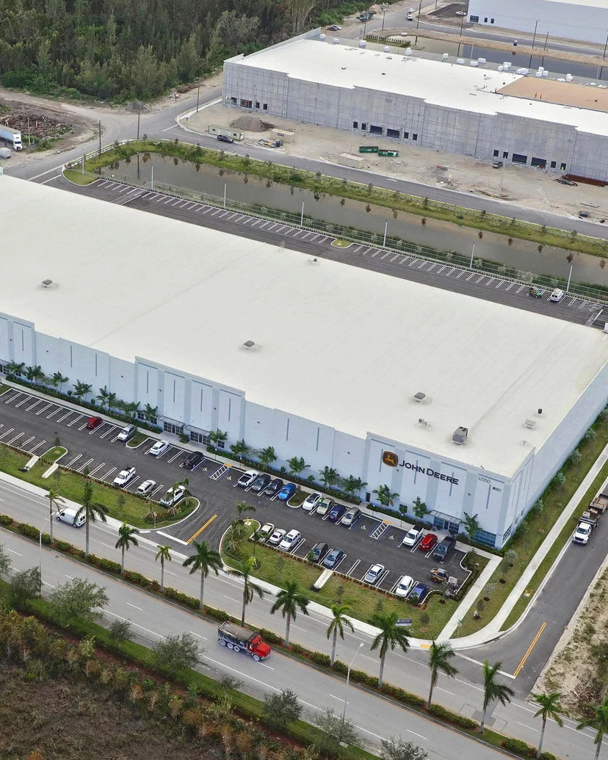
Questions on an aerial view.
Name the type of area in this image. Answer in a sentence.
The picture captures an industrial area.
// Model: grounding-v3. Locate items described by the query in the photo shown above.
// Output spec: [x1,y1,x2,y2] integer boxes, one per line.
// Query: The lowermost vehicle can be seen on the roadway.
[216,612,273,656]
